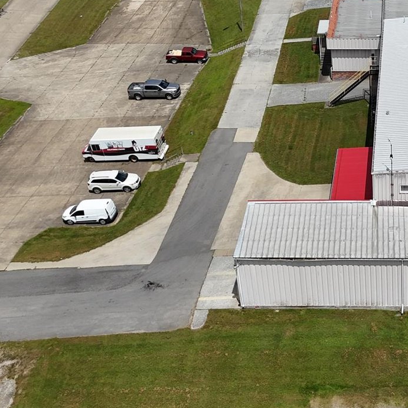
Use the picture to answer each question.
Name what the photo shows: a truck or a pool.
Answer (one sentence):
There is a truck in the scene.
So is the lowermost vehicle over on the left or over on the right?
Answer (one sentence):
You can find the lowermost vehicle on the left side of the picture.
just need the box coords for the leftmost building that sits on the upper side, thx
[315,0,382,78]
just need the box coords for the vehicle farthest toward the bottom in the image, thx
[58,195,118,222]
